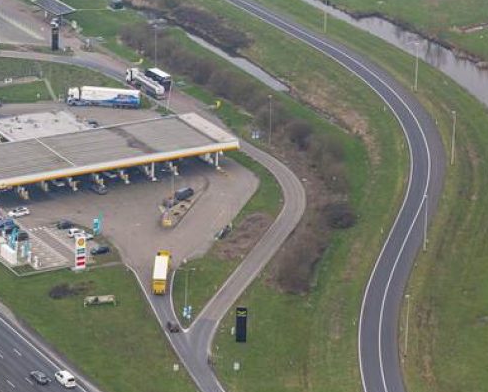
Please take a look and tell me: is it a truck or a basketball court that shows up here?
truck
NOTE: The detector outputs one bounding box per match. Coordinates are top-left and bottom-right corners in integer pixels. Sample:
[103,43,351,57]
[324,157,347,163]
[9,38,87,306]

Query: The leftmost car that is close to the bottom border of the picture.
[31,372,49,385]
